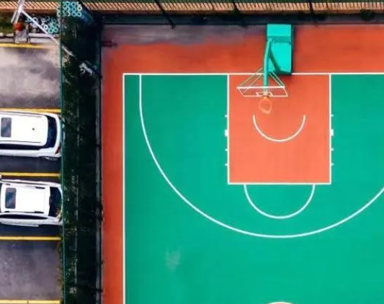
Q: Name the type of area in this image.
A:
sports ground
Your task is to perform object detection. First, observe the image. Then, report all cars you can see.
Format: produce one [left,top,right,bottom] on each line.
[0,110,71,161]
[0,180,71,229]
